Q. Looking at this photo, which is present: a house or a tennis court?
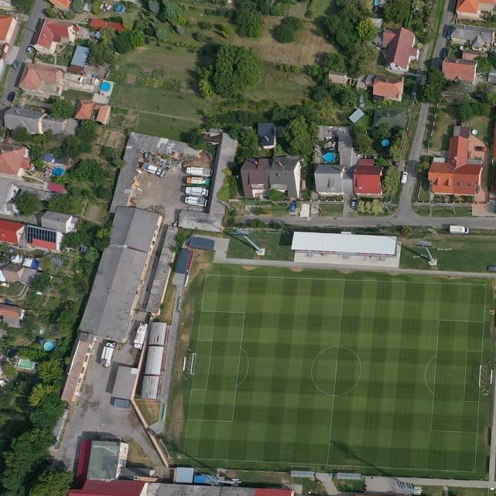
house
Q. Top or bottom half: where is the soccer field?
bottom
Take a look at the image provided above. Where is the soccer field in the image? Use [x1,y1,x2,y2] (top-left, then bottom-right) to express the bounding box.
[173,264,496,479]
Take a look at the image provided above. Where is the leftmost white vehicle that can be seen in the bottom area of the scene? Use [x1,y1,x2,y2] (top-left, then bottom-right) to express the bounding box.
[101,342,115,369]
